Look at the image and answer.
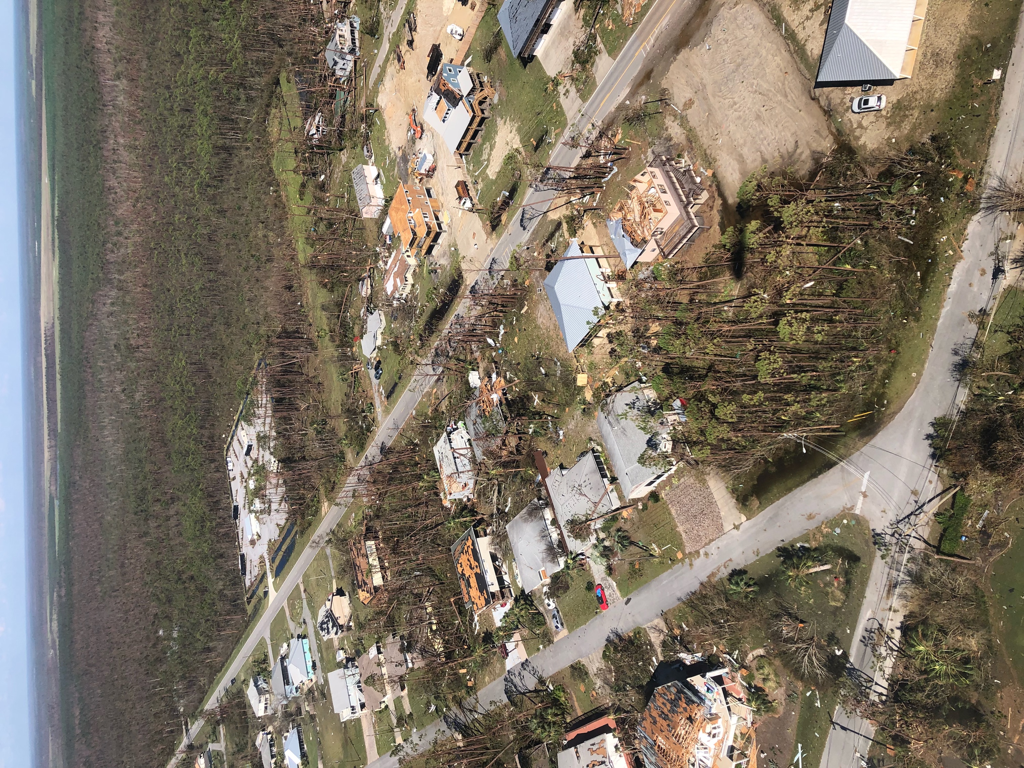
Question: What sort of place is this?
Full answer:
The area seen from above is a residential area.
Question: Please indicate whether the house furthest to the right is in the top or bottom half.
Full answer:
The top half of the photo is where the house furthest to the right is.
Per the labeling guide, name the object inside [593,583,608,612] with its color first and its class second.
red car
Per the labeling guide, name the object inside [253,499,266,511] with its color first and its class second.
white vehicle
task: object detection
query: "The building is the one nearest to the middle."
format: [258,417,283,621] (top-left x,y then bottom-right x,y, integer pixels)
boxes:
[463,370,517,463]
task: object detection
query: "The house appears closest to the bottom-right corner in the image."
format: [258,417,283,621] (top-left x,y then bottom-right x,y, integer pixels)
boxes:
[637,668,754,768]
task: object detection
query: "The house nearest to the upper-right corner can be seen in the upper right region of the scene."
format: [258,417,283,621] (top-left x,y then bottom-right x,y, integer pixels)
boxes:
[817,0,931,84]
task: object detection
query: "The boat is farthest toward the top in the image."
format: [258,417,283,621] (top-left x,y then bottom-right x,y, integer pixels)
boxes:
[443,23,461,41]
